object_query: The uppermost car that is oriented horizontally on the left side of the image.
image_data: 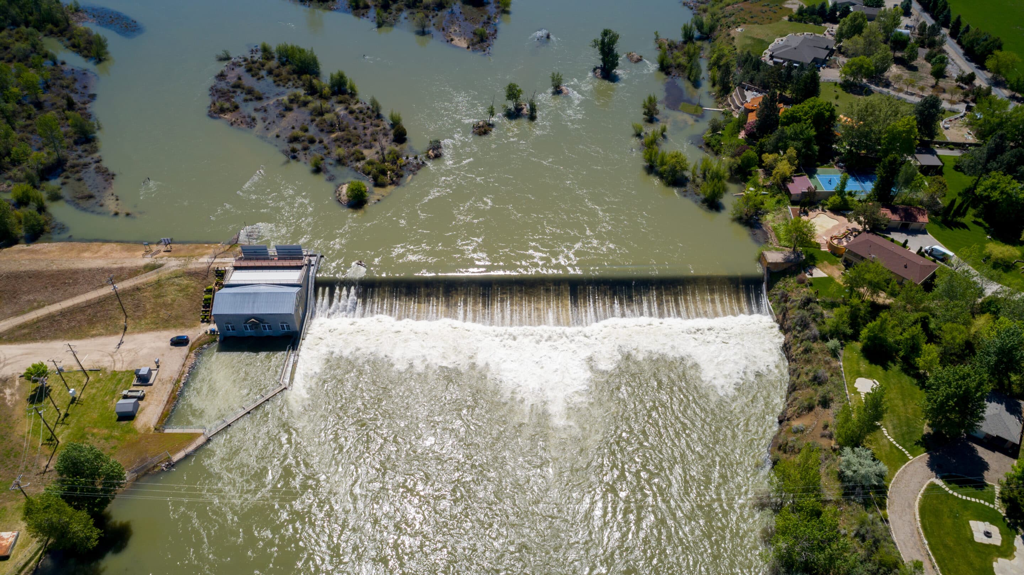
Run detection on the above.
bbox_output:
[166,335,191,347]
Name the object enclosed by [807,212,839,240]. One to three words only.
swimming pool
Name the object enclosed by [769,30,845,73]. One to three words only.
house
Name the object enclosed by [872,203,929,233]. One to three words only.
building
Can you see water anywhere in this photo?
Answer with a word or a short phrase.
Yes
